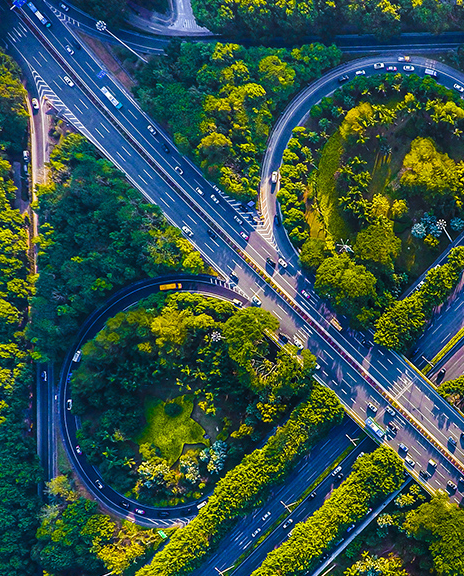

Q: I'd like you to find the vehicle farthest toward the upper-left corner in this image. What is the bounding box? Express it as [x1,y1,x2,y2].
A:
[25,1,53,29]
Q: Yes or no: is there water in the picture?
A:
No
